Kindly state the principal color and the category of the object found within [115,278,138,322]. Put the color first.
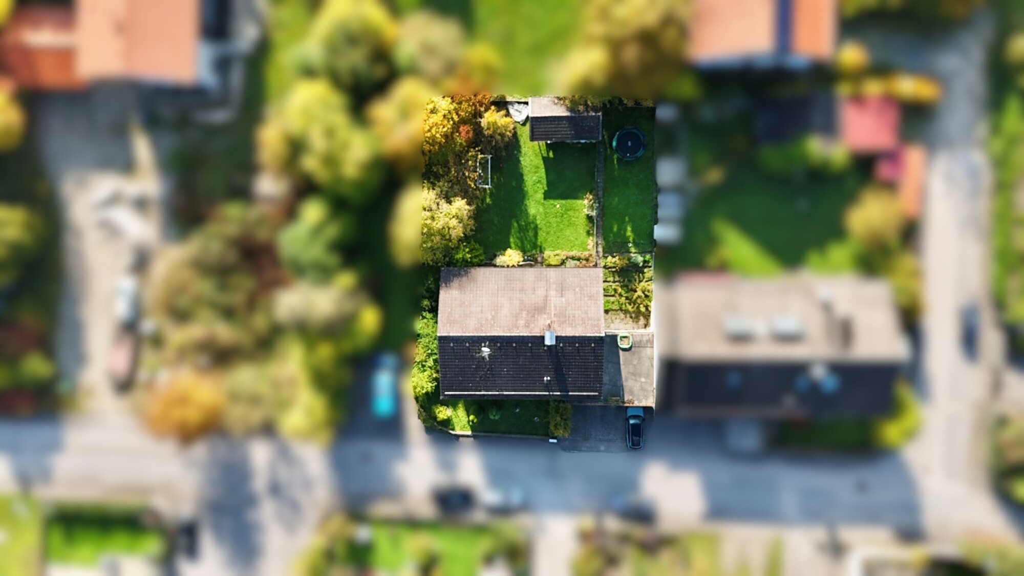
white car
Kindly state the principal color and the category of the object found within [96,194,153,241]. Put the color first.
white camper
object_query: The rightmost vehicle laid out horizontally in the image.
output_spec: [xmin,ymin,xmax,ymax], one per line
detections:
[615,496,658,517]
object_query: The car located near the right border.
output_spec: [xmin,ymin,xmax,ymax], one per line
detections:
[957,308,980,352]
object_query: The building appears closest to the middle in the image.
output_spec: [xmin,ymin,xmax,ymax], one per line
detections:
[438,266,605,400]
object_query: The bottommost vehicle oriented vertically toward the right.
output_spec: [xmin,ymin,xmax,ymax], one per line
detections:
[625,408,646,450]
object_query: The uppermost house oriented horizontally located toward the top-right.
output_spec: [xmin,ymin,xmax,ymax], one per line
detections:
[681,0,841,75]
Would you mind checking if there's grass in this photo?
Yes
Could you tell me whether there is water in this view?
No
